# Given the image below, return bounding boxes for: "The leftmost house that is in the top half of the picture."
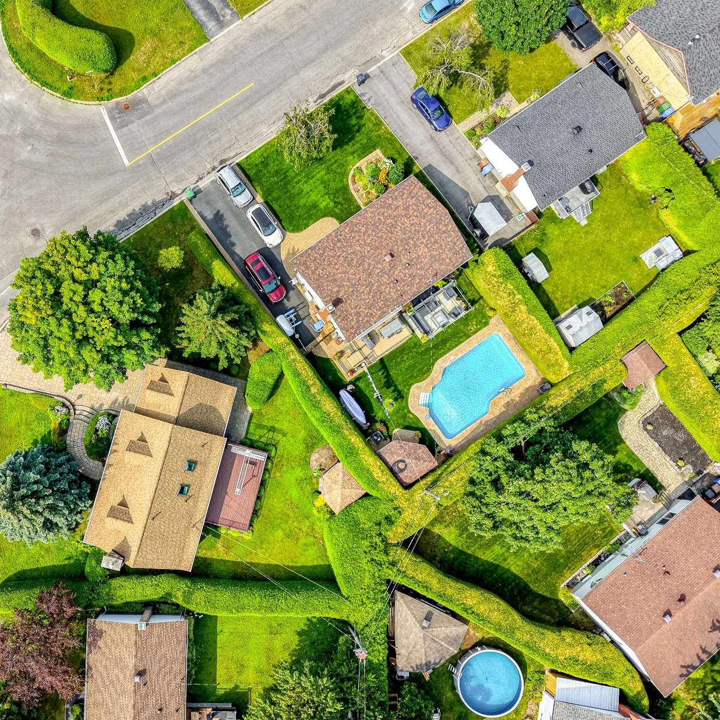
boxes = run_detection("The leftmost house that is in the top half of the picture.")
[288,174,474,344]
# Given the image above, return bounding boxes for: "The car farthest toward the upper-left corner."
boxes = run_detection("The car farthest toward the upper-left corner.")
[214,161,255,211]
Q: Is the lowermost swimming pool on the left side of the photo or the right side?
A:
right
